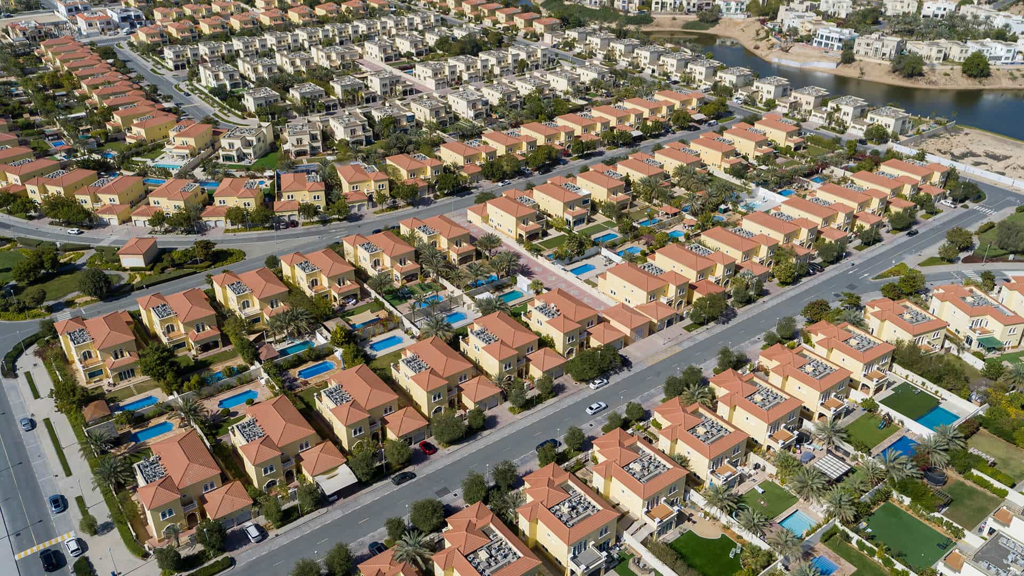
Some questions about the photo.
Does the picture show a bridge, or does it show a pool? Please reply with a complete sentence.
There is a pool in the scene.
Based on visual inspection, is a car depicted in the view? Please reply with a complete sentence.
Yes, the photo shows a car.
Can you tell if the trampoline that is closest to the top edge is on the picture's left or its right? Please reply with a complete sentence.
The trampoline that is closest to the top edge appears in the right half of the scene.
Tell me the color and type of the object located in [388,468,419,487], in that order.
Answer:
black car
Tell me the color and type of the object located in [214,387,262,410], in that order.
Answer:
blue swimming pool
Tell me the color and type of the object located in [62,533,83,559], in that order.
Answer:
white car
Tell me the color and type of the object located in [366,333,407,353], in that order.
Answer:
blue swimming pool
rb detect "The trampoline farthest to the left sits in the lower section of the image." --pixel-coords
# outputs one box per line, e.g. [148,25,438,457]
[792,425,816,447]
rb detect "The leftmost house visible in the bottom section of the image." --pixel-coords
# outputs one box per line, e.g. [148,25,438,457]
[54,314,136,385]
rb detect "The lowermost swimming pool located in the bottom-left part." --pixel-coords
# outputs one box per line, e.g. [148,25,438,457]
[126,419,178,445]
